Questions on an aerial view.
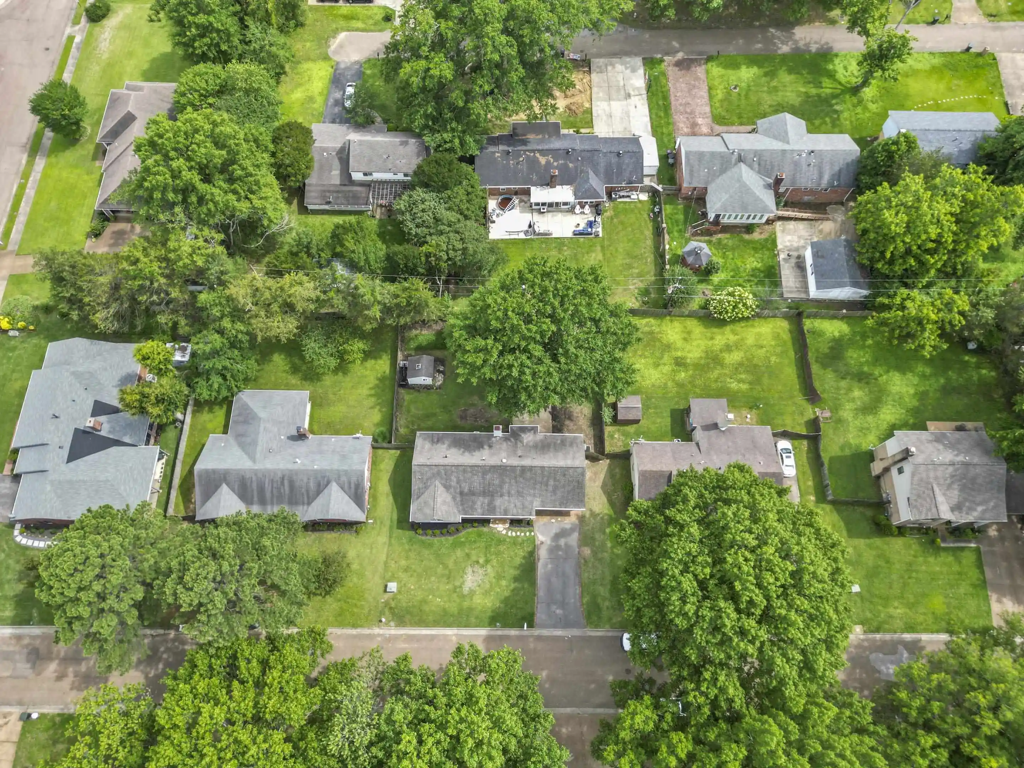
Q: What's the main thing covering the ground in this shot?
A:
trees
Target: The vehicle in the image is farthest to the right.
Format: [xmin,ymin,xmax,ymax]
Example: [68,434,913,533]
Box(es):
[775,439,799,478]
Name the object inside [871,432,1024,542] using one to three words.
house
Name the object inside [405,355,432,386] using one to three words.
shed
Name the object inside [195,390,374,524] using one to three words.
house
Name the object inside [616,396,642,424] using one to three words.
shed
